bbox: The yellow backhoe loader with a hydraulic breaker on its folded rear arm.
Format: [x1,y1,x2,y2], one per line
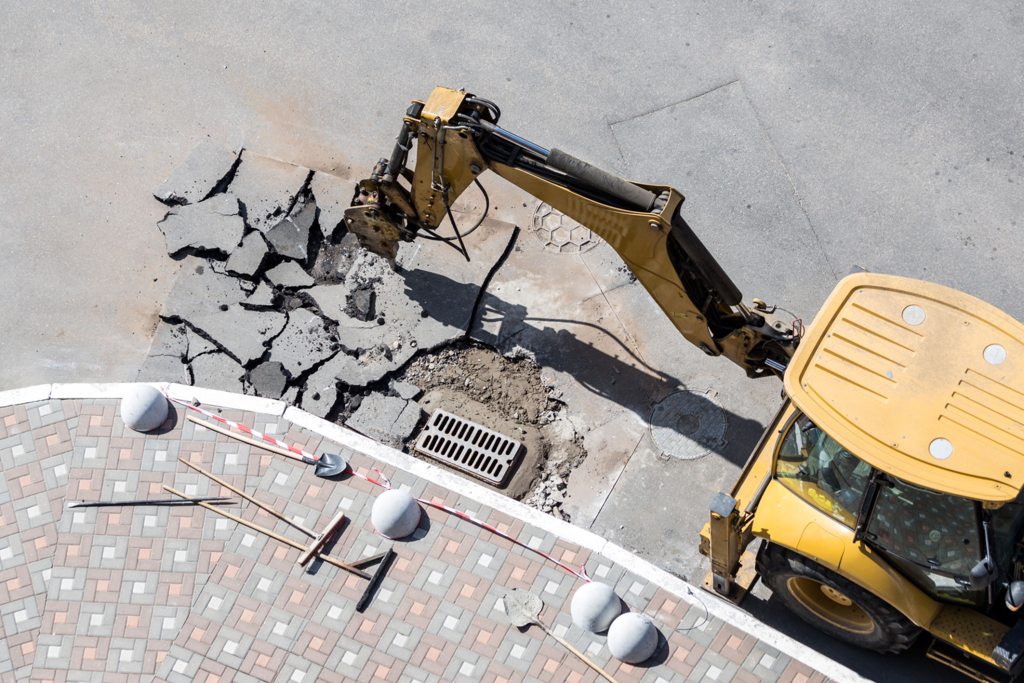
[345,85,1024,683]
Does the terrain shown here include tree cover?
No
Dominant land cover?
paved ground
